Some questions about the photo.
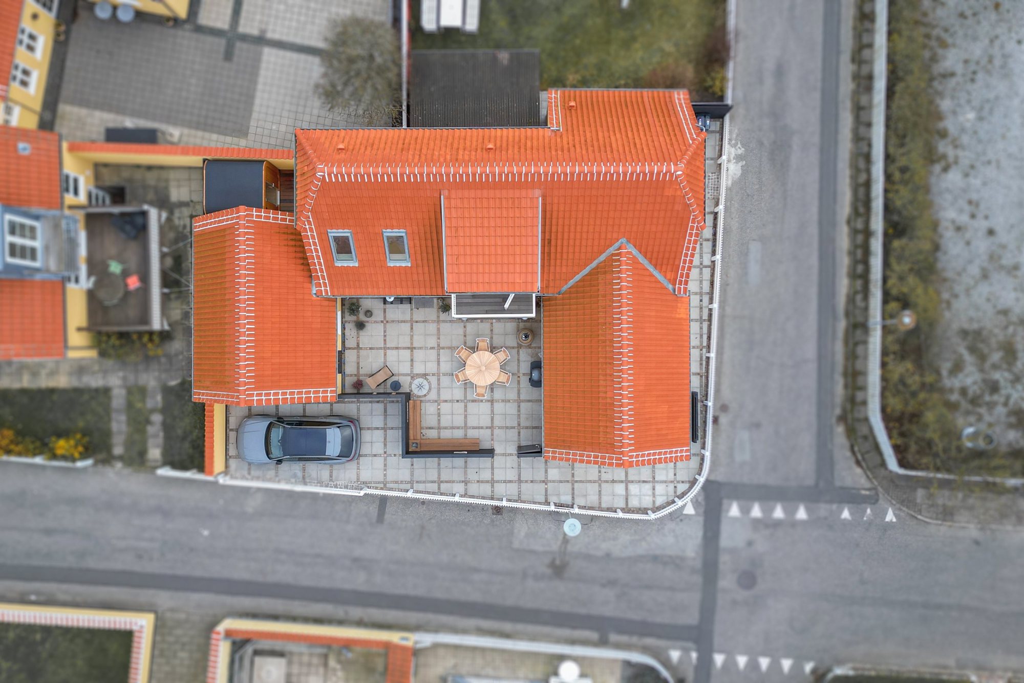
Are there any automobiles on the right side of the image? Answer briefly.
No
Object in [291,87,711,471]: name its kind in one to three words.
house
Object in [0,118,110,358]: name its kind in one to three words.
house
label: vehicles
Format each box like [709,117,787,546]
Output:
[238,411,364,471]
